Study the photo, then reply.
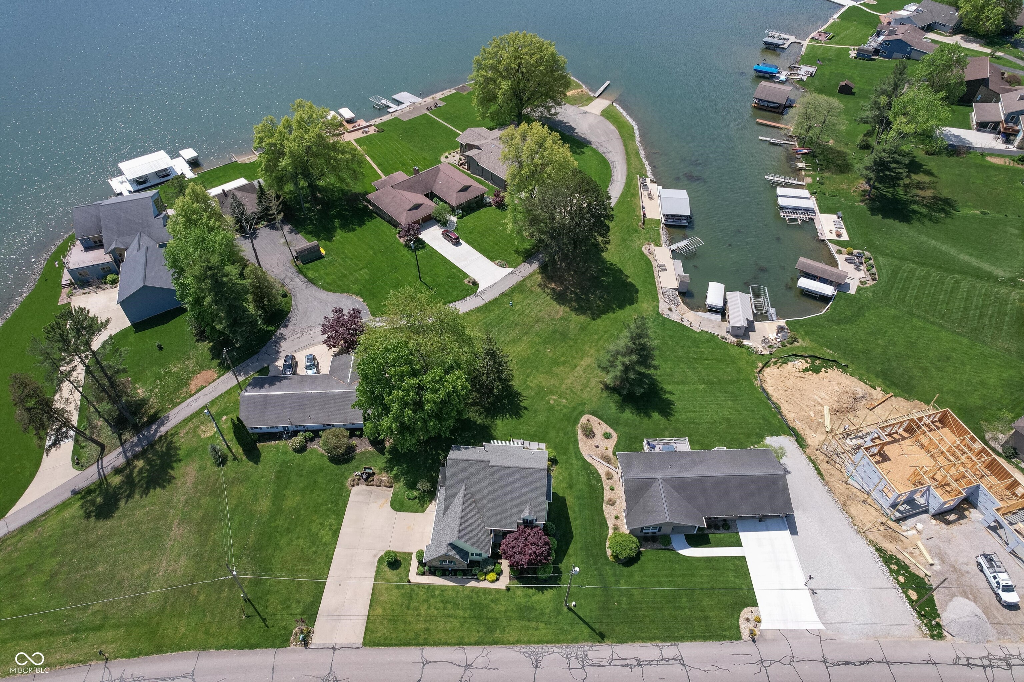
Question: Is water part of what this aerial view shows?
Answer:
Yes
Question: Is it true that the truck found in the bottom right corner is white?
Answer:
Yes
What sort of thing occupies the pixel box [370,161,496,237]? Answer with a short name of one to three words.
house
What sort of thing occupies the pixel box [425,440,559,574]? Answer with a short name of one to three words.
house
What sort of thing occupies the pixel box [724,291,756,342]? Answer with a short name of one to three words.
building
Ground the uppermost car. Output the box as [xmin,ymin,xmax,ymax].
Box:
[440,228,461,243]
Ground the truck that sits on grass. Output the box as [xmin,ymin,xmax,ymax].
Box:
[977,550,1021,605]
